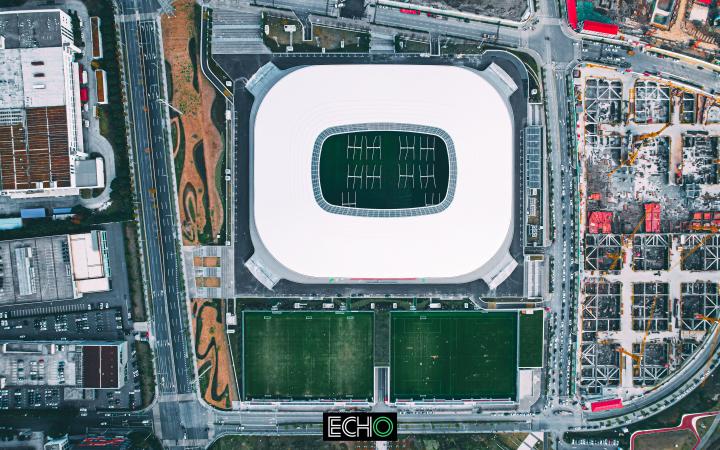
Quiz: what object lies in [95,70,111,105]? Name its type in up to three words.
shed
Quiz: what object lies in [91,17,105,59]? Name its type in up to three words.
shed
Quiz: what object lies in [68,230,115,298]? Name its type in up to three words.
building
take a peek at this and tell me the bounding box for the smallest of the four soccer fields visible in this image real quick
[519,310,544,368]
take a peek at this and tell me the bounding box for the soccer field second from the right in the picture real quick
[390,311,520,401]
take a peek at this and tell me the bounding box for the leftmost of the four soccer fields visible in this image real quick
[242,311,374,401]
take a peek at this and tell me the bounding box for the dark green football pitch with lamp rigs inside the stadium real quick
[322,131,447,209]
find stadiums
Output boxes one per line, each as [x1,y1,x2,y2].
[245,62,518,290]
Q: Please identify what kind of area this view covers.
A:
sports ground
